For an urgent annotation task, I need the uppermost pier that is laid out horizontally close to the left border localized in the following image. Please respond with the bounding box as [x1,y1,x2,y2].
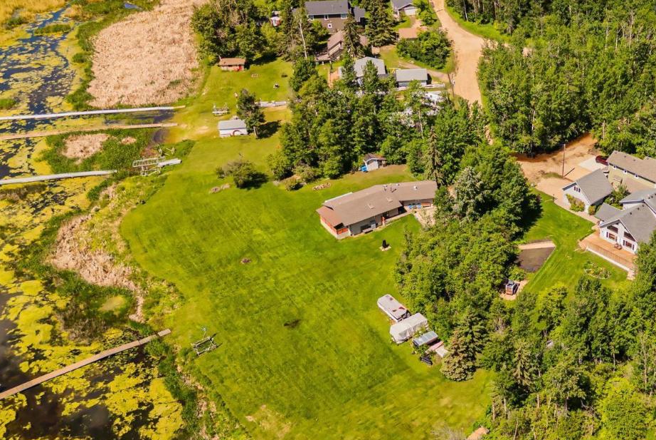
[0,107,173,121]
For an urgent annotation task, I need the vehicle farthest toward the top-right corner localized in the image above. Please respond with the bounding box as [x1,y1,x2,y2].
[594,156,610,168]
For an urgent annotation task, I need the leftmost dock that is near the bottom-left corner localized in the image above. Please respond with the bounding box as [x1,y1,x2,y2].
[0,332,158,399]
